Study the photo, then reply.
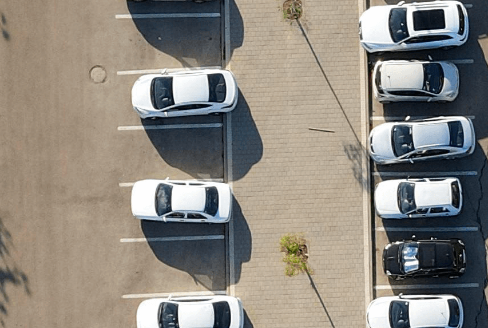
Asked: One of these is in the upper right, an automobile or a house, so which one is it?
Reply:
automobile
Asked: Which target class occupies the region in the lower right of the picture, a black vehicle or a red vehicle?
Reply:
black vehicle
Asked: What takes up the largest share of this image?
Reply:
paved ground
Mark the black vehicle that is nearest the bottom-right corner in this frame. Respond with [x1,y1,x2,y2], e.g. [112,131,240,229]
[382,232,466,281]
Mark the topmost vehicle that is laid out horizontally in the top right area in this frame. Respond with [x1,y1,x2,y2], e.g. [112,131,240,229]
[359,0,468,51]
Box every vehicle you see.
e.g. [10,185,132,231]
[359,0,468,51]
[382,232,466,281]
[366,289,464,328]
[132,66,238,119]
[136,291,244,328]
[368,112,475,163]
[131,175,232,224]
[375,171,463,220]
[373,53,459,102]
